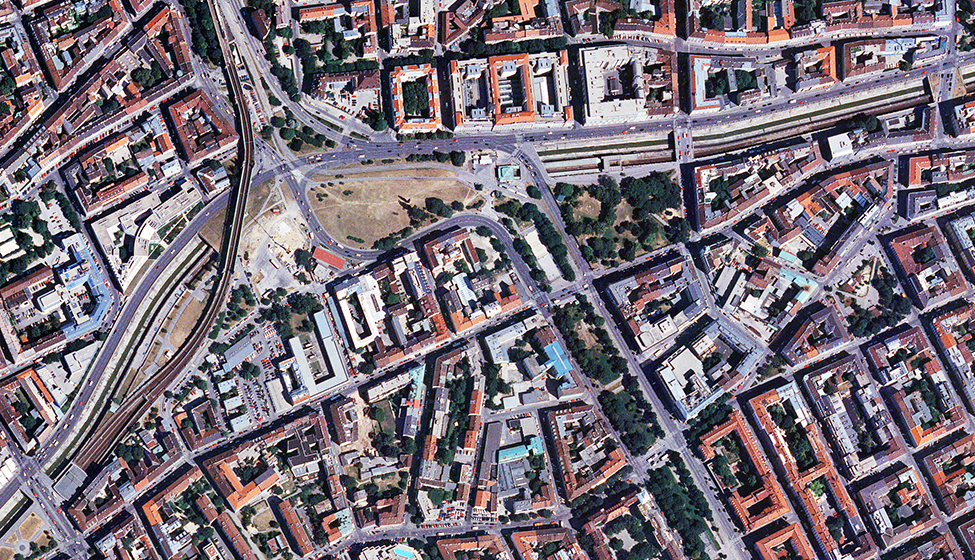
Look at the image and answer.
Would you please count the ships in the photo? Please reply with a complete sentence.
No ships are visible.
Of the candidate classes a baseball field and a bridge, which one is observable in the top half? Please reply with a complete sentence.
Visible in the top half is a bridge.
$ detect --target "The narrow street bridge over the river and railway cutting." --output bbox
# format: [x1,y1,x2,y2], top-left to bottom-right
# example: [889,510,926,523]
[673,125,694,163]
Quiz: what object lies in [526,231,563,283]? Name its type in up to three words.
sports court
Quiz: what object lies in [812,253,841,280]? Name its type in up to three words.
house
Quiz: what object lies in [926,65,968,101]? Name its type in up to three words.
bridge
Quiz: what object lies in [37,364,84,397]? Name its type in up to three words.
building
